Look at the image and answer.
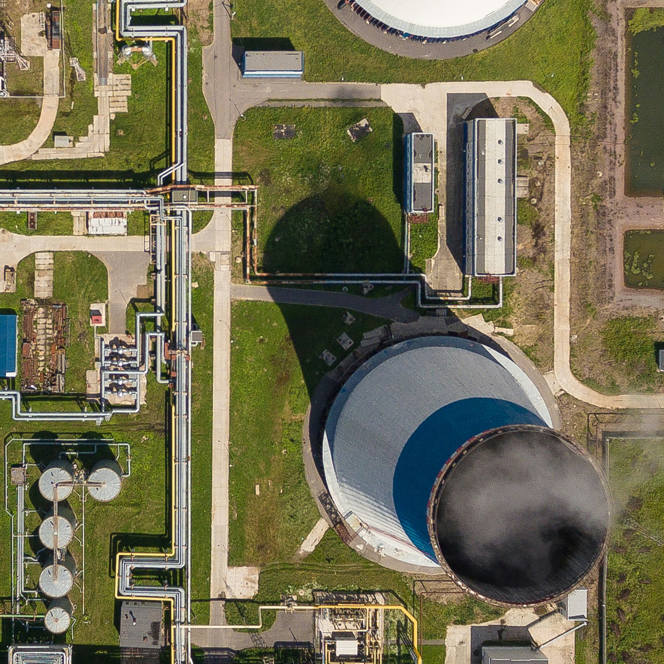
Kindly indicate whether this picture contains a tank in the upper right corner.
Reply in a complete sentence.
No, there's no tank to be seen in the upper right corner.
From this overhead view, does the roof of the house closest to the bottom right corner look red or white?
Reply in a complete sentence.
From above, the roof of the house closest to the bottom right corner appears white.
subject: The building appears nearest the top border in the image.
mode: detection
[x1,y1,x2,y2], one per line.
[242,51,303,75]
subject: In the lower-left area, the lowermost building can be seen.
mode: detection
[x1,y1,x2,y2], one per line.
[120,601,162,648]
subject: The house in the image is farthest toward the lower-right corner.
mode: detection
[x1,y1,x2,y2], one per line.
[557,583,588,620]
